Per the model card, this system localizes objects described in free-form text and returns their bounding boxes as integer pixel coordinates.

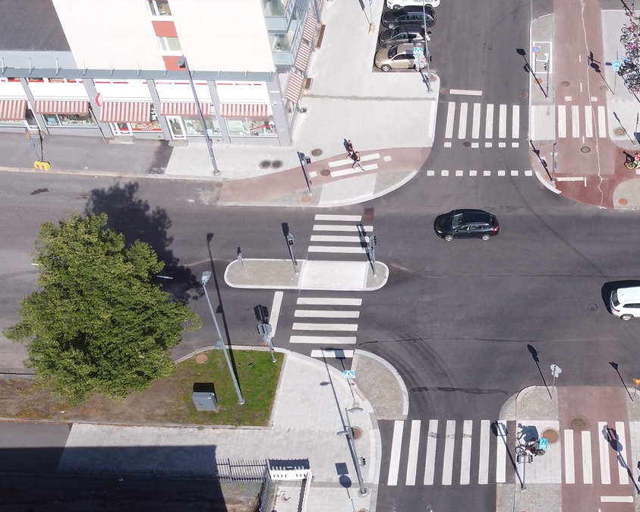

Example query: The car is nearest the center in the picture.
[434,208,501,240]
